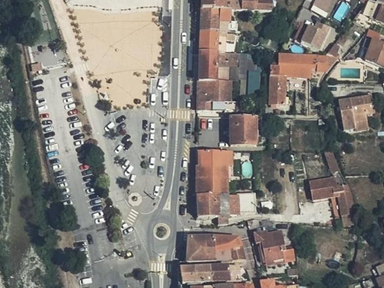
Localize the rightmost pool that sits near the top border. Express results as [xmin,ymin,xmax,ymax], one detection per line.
[332,0,351,22]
